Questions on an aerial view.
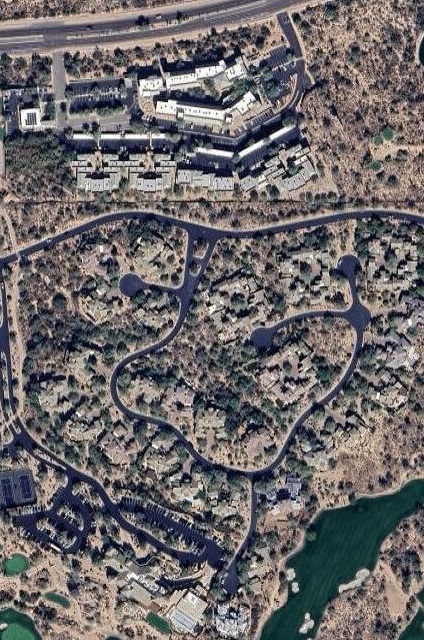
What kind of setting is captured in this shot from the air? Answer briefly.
residential area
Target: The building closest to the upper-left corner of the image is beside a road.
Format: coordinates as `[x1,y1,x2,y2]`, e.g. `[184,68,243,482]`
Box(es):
[21,109,57,130]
